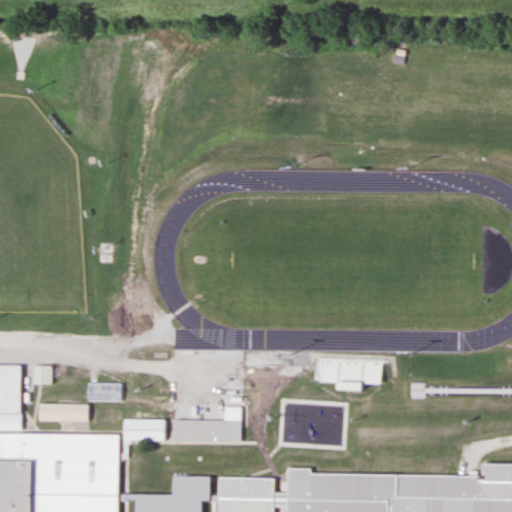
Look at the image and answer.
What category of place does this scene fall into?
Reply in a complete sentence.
This image shows a sports ground.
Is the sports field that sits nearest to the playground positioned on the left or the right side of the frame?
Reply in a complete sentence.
The sports field that sits nearest to the playground sits on the right side.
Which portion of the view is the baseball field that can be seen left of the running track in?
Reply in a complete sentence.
Look in the left portion of the view to spot the baseball field that can be seen left of the running track.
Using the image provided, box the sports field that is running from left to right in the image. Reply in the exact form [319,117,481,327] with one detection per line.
[176,192,512,329]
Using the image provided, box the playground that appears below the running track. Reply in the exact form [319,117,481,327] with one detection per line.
[278,398,349,450]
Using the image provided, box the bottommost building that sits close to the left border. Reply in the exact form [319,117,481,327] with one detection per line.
[0,434,120,512]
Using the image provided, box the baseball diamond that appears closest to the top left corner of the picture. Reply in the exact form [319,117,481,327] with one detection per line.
[0,93,88,314]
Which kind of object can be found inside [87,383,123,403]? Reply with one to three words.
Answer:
greenhouse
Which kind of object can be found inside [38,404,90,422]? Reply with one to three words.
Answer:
shed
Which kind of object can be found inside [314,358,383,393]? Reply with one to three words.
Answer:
building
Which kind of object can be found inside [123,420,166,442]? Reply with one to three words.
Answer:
building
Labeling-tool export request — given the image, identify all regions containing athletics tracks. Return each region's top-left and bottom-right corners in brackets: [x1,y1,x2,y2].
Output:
[154,170,512,351]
